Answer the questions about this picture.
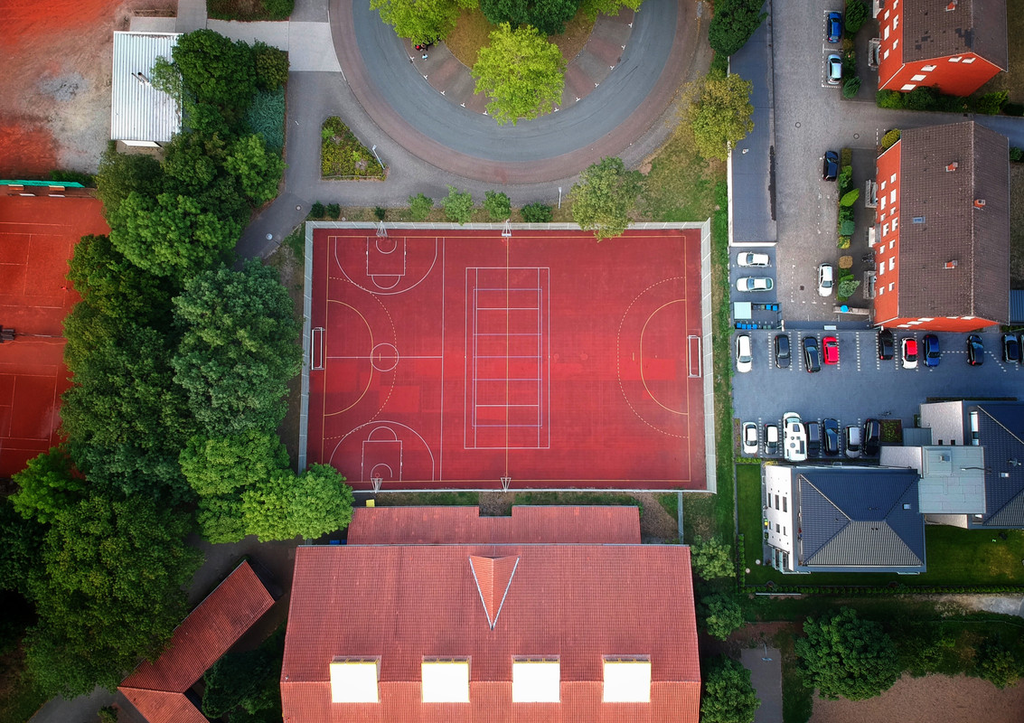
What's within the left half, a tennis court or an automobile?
tennis court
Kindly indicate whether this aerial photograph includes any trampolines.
No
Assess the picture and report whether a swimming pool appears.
No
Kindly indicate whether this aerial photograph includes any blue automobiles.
Yes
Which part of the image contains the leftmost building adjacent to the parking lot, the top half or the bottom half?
bottom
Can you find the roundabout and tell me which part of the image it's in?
top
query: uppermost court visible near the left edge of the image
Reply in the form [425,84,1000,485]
[0,198,114,336]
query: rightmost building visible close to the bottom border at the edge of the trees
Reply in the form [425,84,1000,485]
[280,505,701,723]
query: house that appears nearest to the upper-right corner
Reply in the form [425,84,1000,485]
[867,0,1008,96]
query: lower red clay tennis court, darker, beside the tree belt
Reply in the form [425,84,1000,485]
[0,335,93,476]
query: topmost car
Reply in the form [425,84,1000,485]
[826,14,843,43]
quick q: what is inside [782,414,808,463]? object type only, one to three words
camper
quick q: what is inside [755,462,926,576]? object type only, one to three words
building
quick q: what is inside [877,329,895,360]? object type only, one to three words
car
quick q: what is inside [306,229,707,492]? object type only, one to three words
sports court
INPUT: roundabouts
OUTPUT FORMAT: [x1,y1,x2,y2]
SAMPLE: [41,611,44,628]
[330,0,703,185]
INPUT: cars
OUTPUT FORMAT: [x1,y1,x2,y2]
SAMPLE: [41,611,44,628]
[804,422,822,457]
[965,334,985,365]
[826,14,843,43]
[735,276,773,292]
[773,335,792,369]
[735,335,754,372]
[801,337,821,373]
[817,263,835,297]
[825,55,843,86]
[742,422,760,454]
[822,152,840,181]
[843,426,863,458]
[999,333,1021,364]
[736,251,769,267]
[862,419,883,456]
[822,336,840,365]
[763,424,780,455]
[921,334,941,368]
[820,418,840,456]
[899,337,919,370]
[877,329,895,360]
